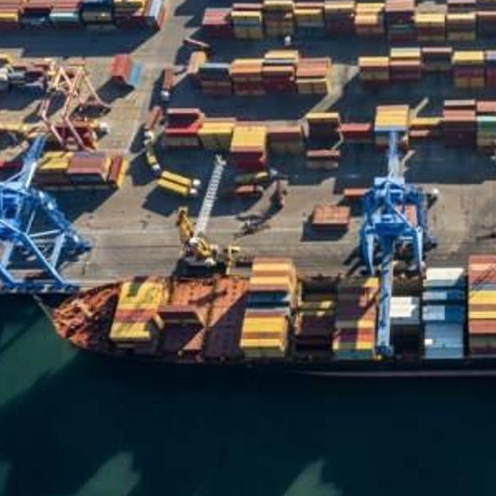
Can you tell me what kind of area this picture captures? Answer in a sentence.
This looks like a port.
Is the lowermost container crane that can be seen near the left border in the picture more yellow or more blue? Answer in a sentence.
In this view, the lowermost container crane that can be seen near the left border is blue.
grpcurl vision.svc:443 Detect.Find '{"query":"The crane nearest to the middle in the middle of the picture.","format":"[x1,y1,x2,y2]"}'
[176,150,229,284]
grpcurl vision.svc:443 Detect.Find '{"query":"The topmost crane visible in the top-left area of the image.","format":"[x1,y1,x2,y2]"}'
[40,68,109,150]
